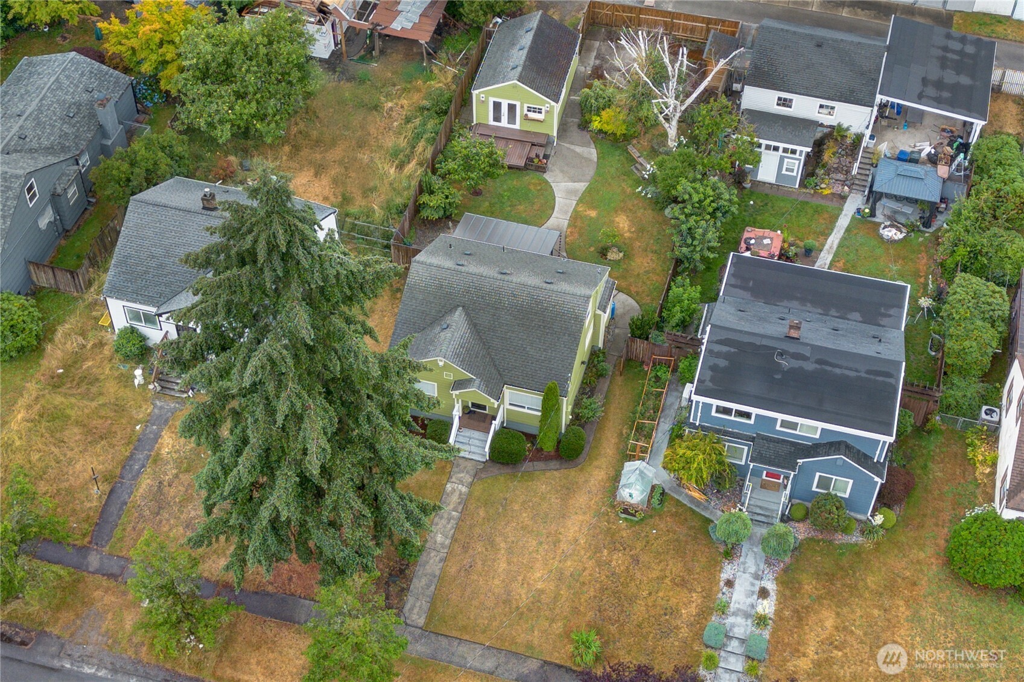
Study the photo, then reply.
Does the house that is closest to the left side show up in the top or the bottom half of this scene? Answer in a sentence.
The house that is closest to the left side sits in the top half of the picture.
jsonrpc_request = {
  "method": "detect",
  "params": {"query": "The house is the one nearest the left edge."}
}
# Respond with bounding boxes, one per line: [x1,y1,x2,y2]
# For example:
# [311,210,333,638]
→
[0,47,153,299]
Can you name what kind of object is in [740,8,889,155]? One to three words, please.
building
